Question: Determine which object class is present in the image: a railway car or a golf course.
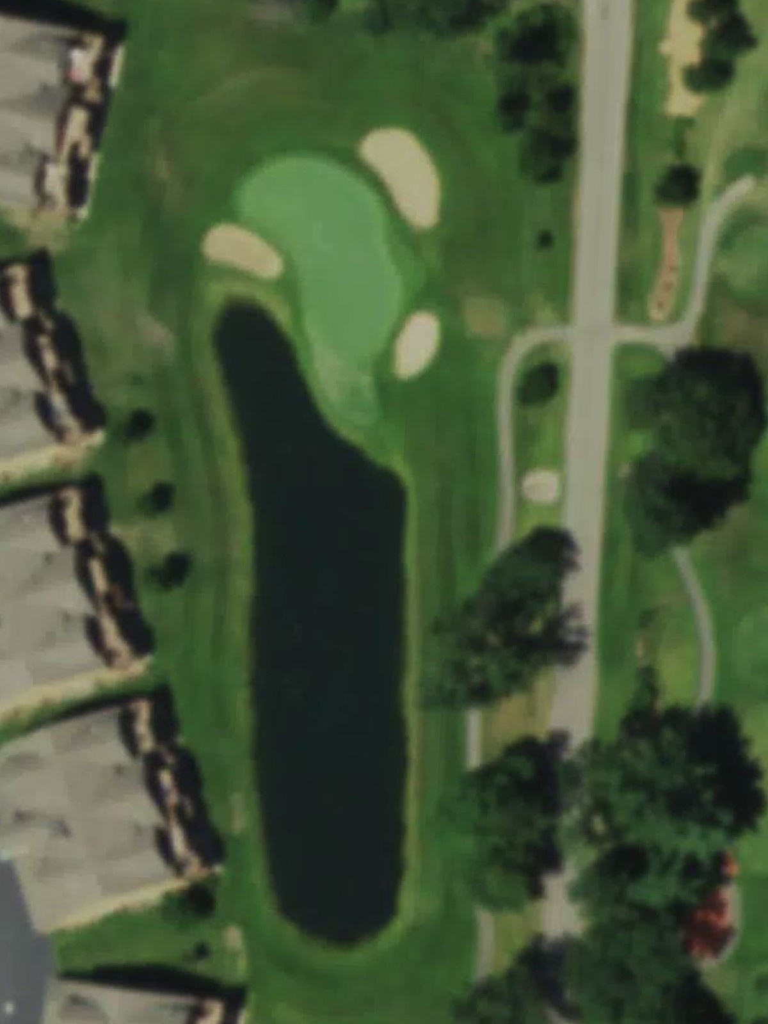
golf course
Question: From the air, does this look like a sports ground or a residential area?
residential area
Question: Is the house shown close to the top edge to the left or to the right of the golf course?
on its left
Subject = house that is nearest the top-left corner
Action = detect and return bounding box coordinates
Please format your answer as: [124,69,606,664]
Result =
[0,14,102,218]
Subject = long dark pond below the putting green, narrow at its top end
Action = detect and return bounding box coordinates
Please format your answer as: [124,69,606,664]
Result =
[218,302,409,944]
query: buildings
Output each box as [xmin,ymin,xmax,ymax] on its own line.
[0,485,129,714]
[0,695,200,936]
[32,973,224,1024]
[0,260,79,466]
[0,14,102,218]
